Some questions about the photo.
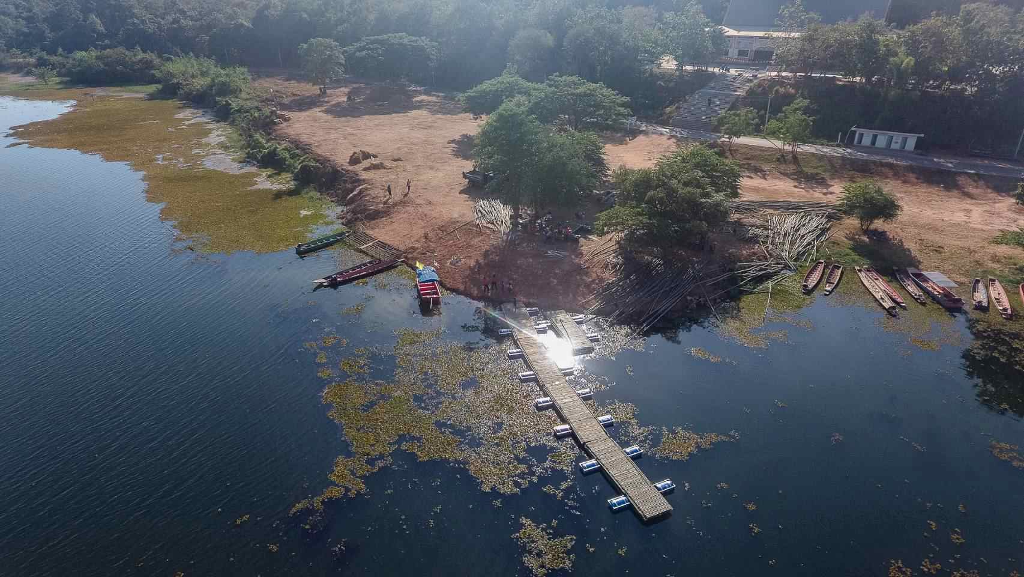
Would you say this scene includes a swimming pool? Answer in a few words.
No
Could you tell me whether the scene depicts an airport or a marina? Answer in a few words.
marina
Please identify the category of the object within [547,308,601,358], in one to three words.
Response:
pier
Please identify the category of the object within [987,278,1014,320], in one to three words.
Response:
boat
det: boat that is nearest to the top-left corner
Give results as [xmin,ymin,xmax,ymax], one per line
[289,231,349,255]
